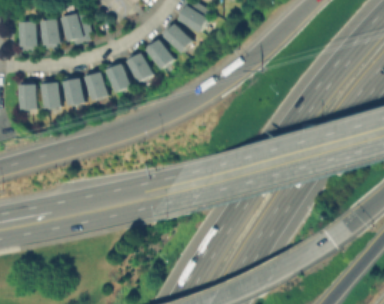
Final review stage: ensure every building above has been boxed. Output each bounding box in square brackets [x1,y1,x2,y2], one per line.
[18,84,39,115]
[178,5,210,34]
[126,52,158,86]
[40,20,62,49]
[18,22,39,52]
[40,83,62,114]
[104,63,134,95]
[62,76,88,110]
[62,14,86,44]
[146,39,178,73]
[84,72,111,104]
[162,24,197,55]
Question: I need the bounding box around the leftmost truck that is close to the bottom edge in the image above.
[176,258,198,293]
